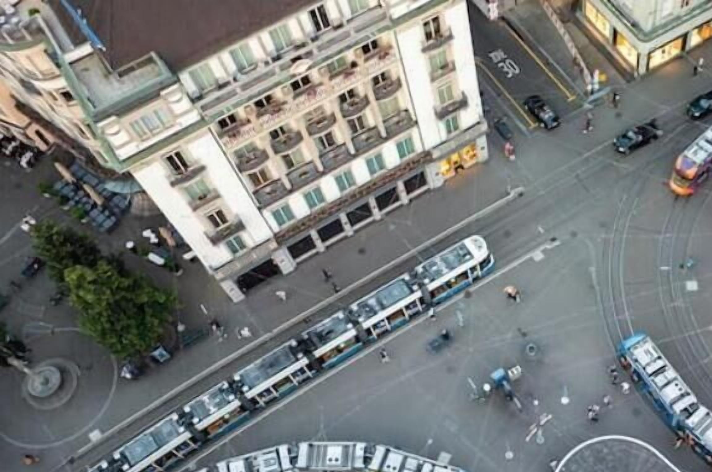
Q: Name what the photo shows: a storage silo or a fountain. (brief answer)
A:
fountain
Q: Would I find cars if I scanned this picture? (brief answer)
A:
Yes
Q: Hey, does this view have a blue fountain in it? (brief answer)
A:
No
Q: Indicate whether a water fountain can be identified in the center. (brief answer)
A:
No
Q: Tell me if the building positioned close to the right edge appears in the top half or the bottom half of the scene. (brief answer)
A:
top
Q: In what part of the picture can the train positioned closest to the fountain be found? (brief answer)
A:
bottom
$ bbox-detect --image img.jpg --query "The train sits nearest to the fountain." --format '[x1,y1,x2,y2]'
[90,244,498,472]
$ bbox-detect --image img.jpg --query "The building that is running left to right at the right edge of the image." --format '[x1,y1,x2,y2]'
[559,0,712,76]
